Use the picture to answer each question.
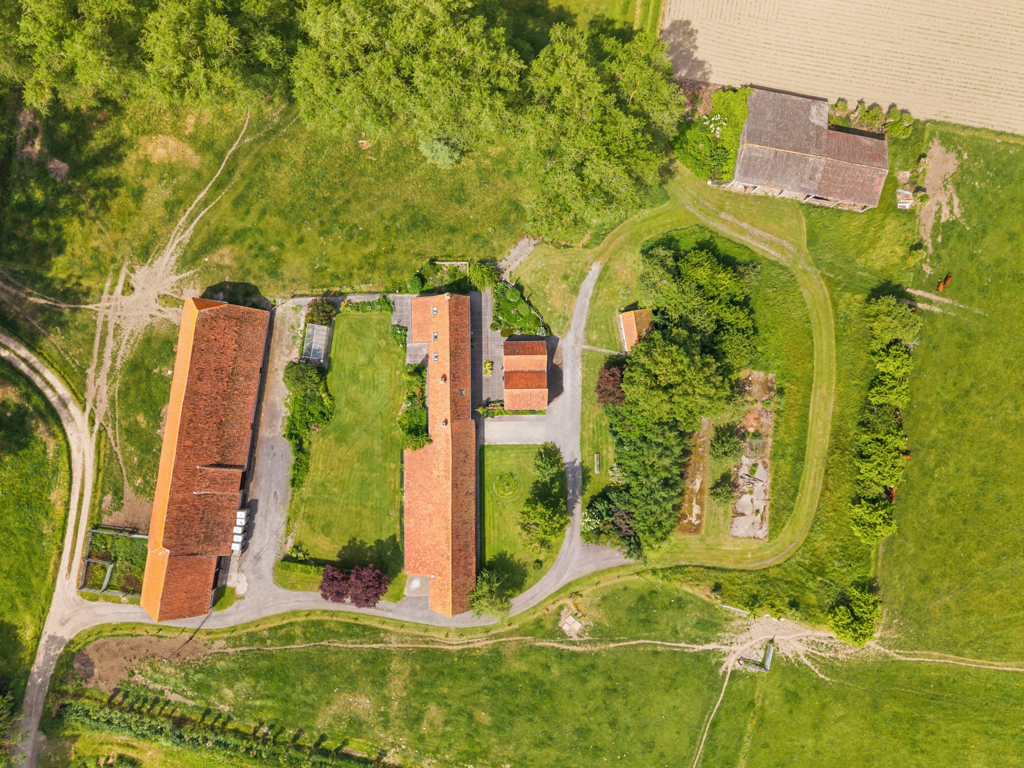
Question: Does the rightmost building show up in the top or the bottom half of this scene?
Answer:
top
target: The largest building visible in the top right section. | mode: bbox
[727,86,889,214]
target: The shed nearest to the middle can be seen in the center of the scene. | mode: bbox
[502,340,548,410]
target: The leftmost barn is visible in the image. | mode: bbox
[140,297,270,622]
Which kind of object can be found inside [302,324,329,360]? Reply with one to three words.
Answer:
greenhouse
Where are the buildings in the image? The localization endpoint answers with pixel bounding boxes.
[502,340,548,410]
[140,297,270,622]
[619,308,657,351]
[302,324,329,360]
[403,293,477,617]
[727,86,889,214]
